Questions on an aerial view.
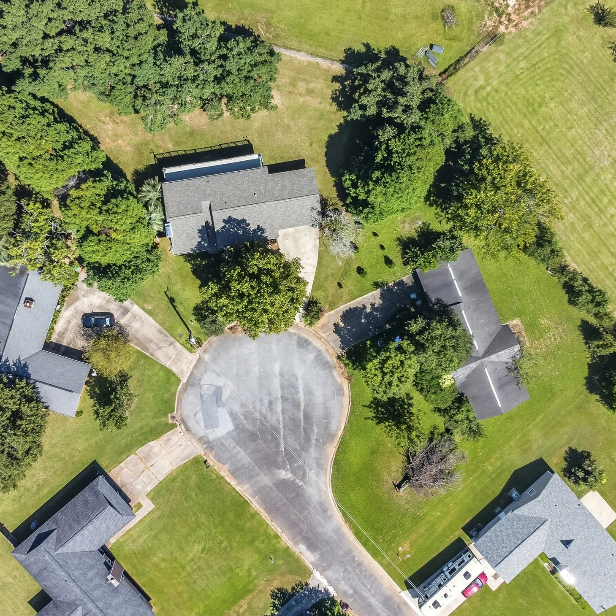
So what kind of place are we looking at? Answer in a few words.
residential area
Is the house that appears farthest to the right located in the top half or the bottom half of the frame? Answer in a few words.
bottom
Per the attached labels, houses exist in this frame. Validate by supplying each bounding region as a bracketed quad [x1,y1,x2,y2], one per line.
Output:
[0,259,93,418]
[416,248,529,419]
[11,475,163,616]
[161,152,319,255]
[474,471,616,614]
